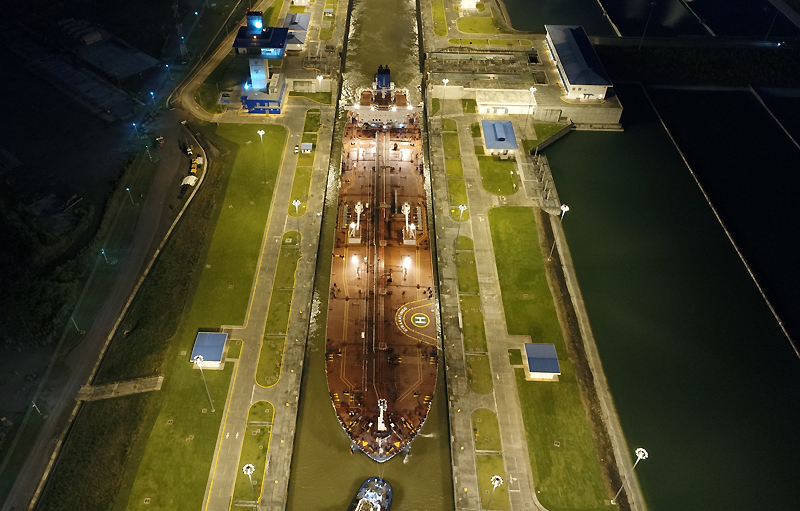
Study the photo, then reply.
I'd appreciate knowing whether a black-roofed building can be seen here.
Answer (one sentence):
Yes, a black-roofed building is visible in the scene.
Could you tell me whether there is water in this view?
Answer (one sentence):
Yes, water can be seen from above here.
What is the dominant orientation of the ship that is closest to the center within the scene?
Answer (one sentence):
The ship that is closest to the center is oriented from top to bottom.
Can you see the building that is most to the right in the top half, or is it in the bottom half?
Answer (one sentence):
You can find the building that is most to the right in the top half.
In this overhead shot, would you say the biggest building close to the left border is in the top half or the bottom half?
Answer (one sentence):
Seen from above, the biggest building close to the left border lies in the top half of the view.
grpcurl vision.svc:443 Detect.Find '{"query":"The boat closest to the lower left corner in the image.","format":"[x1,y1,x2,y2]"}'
[348,477,390,511]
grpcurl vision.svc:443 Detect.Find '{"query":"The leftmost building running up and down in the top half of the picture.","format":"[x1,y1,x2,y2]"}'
[233,3,290,116]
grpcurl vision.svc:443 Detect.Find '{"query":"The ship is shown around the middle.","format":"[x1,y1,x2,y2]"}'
[324,60,447,467]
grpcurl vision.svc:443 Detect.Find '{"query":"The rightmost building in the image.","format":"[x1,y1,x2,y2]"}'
[544,24,612,102]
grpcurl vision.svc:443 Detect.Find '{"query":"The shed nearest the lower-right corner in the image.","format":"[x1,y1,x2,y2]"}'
[521,344,562,383]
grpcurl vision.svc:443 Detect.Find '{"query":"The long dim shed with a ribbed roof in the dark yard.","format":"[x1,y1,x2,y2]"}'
[9,63,145,134]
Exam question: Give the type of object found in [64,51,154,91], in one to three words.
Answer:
building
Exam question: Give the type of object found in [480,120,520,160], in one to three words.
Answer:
building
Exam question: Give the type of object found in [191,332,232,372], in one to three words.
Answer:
shed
